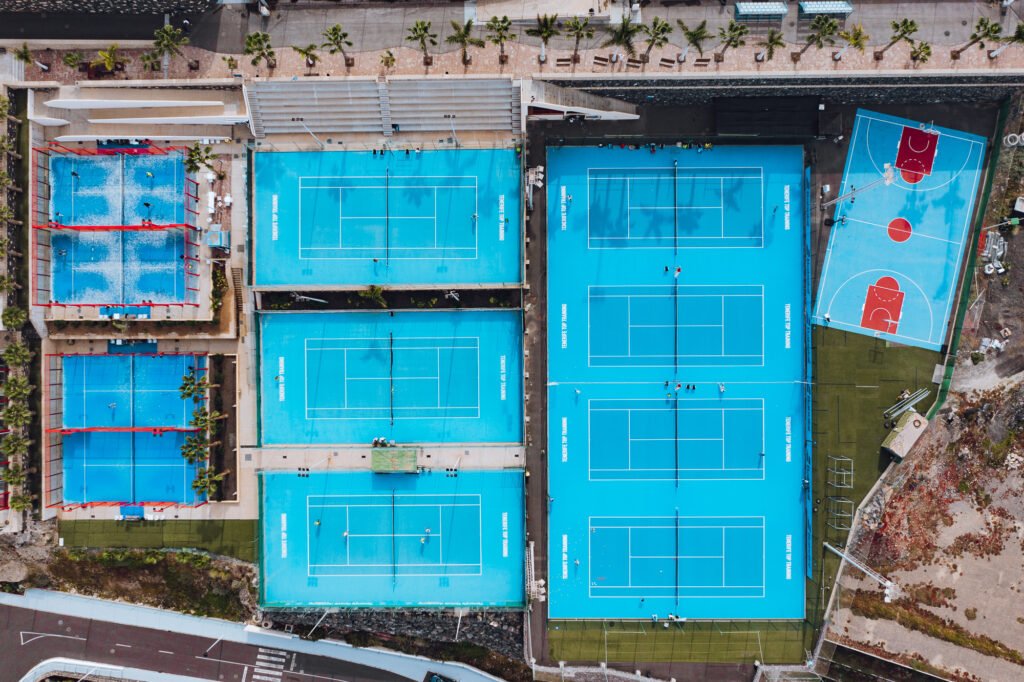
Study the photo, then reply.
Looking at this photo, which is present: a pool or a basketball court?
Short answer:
basketball court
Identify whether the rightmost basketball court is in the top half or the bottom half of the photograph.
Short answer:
top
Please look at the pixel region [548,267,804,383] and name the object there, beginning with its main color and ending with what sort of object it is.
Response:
blue tennis court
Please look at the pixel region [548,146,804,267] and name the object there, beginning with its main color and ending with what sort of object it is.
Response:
blue tennis court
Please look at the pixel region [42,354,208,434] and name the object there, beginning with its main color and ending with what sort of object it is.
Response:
blue sports court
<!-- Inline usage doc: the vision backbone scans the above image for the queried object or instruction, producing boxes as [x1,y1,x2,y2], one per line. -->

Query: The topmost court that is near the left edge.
[28,144,201,229]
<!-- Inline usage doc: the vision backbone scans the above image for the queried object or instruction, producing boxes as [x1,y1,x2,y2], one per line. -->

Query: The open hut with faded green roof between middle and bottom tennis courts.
[372,446,419,471]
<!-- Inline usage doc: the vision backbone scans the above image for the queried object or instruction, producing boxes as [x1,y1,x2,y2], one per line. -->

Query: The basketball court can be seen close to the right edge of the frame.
[812,108,988,351]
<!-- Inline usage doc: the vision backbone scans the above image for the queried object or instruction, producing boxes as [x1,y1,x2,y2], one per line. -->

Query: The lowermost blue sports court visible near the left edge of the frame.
[42,430,208,514]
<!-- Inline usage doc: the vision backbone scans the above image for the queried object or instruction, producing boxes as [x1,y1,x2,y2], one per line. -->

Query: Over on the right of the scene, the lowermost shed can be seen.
[881,411,928,458]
